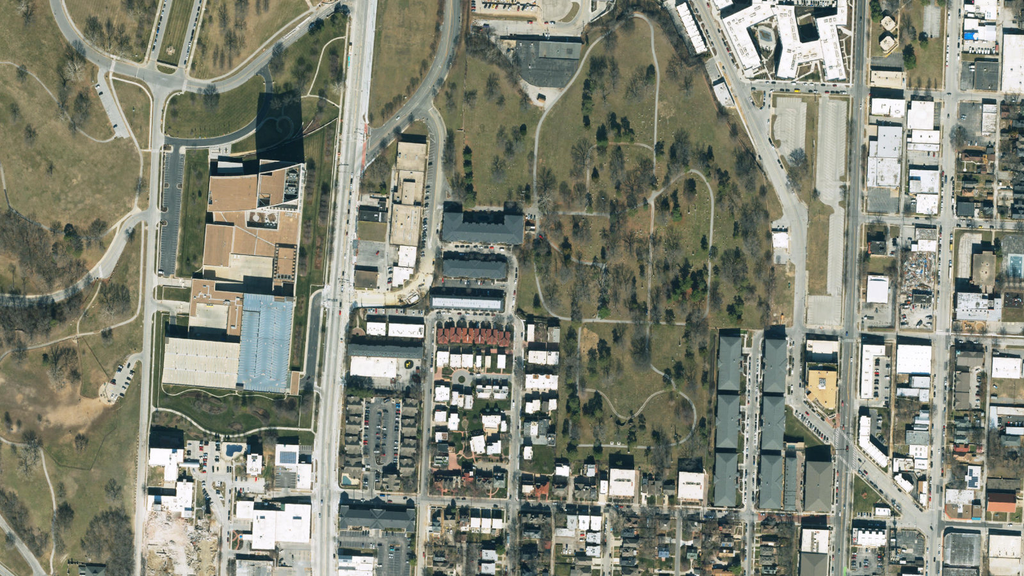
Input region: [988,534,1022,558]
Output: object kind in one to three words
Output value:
building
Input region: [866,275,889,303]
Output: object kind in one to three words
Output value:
shed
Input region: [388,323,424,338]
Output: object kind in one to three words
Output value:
house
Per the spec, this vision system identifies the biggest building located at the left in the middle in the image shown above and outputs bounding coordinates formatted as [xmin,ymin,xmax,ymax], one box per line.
[190,160,306,336]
